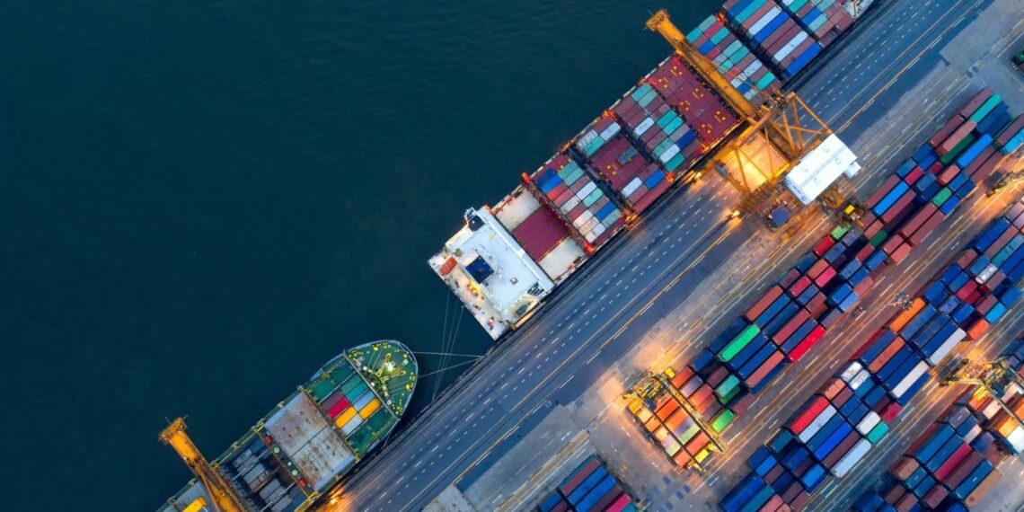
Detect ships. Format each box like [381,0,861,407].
[431,0,869,337]
[158,341,418,512]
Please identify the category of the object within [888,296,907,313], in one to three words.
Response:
vehicle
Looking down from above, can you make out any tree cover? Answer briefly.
No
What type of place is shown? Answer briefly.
port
